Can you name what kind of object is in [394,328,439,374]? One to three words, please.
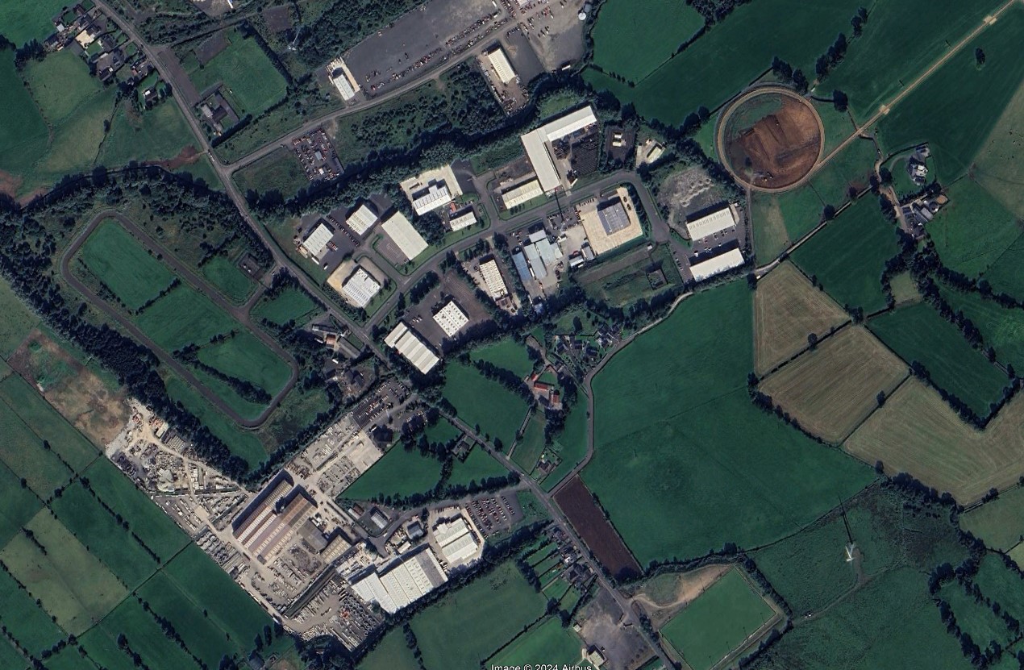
building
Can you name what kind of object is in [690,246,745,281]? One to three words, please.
building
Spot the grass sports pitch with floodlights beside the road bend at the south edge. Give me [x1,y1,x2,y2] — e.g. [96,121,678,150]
[659,565,784,670]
